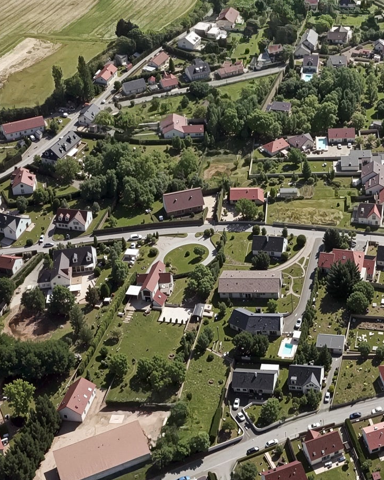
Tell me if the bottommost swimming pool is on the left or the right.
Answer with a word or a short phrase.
right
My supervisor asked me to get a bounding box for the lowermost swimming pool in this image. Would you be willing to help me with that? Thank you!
[278,337,298,358]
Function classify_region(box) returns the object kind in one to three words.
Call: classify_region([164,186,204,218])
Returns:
house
